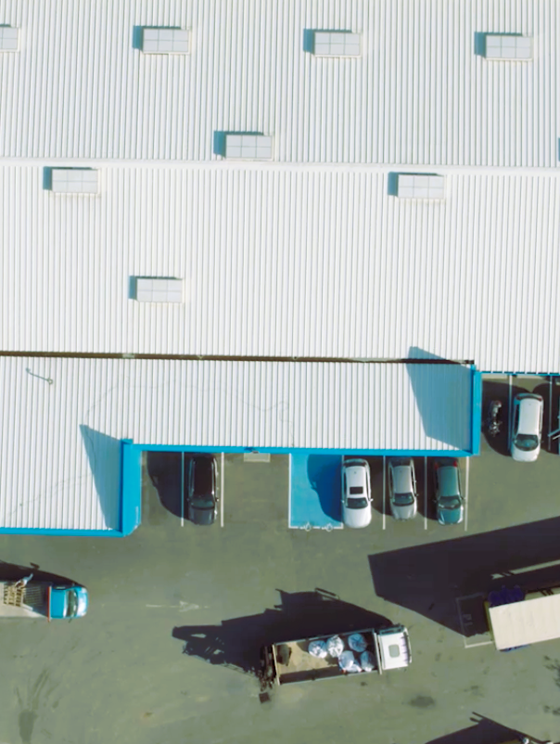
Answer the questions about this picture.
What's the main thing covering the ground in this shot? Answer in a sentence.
The largest share of the image is taken up by buildings.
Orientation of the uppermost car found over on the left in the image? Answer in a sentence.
The uppermost car found over on the left is laid out from top to bottom.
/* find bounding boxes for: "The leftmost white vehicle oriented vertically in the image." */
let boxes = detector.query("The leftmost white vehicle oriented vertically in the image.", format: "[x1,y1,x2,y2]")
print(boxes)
[339,456,375,529]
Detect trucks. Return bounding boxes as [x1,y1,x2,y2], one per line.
[0,582,90,624]
[487,586,560,656]
[255,619,416,685]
